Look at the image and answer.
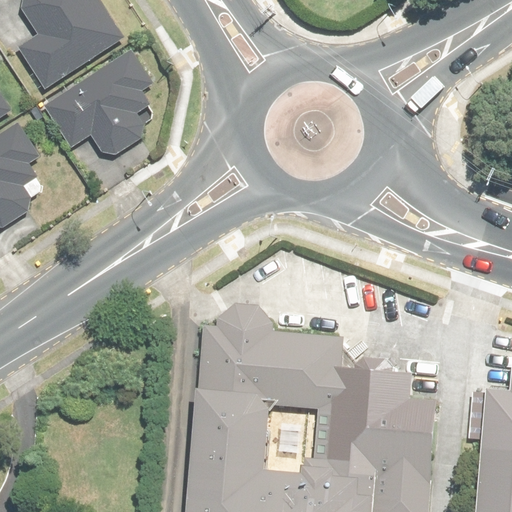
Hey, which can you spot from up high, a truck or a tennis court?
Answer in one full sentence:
I can see a truck in this picture.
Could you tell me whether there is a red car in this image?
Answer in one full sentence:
Yes, there's a red car down there.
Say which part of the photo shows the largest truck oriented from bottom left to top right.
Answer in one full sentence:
The largest truck oriented from bottom left to top right is in the top right part of the image.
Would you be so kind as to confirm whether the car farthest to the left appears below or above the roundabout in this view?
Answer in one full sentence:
It's below the roundabout that the car farthest to the left shows up.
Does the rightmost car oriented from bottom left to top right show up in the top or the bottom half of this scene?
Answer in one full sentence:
The top half of the photo is where the rightmost car oriented from bottom left to top right is.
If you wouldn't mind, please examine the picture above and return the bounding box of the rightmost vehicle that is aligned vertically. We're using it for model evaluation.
[383,290,398,322]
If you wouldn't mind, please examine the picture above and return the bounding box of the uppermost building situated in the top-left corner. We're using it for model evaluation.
[18,0,124,90]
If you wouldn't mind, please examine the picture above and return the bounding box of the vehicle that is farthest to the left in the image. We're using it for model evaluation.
[254,258,284,282]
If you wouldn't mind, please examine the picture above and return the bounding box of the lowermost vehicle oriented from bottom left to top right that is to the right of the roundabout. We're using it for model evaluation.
[402,76,445,118]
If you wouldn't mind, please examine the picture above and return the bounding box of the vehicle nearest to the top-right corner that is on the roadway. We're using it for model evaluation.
[449,47,480,74]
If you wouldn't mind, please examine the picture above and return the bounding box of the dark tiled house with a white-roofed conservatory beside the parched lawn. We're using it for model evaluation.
[0,122,44,227]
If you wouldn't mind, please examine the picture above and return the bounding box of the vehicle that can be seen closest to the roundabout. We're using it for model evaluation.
[330,66,364,96]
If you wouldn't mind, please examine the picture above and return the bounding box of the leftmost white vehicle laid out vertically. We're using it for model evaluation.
[344,276,359,308]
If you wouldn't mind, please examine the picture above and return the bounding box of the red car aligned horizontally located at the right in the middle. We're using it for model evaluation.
[463,256,494,272]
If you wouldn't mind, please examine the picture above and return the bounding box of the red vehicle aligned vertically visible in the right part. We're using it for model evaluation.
[362,284,377,311]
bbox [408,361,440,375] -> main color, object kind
white car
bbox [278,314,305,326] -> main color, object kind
white vehicle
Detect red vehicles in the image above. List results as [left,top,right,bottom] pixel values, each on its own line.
[362,284,377,311]
[463,256,494,272]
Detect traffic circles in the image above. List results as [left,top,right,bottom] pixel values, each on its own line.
[264,82,364,182]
